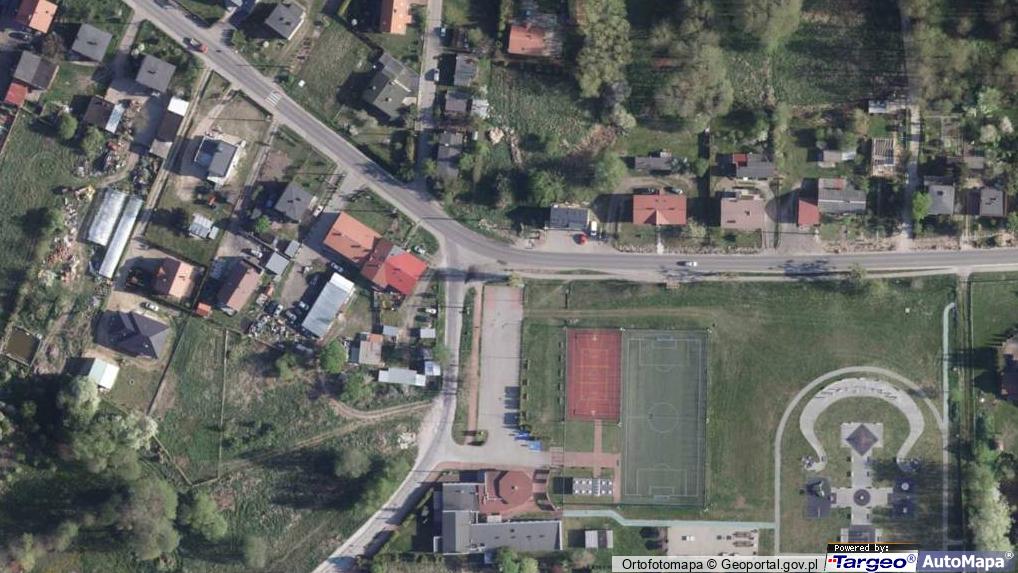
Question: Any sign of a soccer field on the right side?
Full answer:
Yes, a soccer field is visible on the right side.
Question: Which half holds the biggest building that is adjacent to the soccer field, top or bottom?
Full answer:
The bottom half of the photo is where the biggest building that is adjacent to the soccer field is.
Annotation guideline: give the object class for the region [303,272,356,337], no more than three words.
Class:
building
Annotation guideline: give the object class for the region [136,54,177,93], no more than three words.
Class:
house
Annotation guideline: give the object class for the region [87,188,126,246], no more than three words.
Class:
greenhouse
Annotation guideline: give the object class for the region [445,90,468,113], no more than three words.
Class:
shed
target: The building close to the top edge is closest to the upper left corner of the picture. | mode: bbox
[16,0,59,33]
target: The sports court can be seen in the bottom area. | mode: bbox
[567,330,621,422]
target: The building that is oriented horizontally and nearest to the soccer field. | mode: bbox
[573,478,614,494]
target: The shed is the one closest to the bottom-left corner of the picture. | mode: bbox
[89,358,119,389]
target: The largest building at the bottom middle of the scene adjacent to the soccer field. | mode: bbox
[432,471,563,554]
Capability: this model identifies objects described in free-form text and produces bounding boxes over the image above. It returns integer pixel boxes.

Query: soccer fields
[620,329,707,505]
